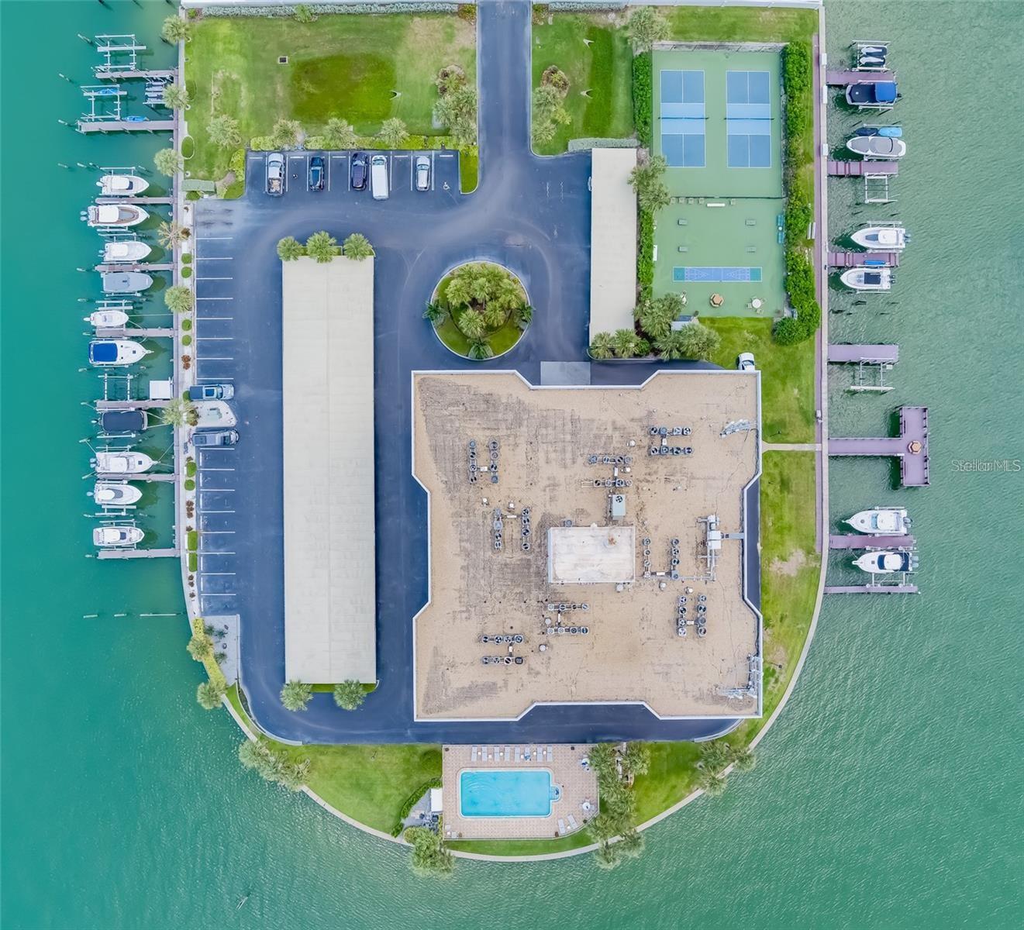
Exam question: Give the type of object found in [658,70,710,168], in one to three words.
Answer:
sports court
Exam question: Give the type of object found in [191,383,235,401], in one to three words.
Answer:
vehicle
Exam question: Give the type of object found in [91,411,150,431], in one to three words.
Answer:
boat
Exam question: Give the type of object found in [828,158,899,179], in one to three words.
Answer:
pier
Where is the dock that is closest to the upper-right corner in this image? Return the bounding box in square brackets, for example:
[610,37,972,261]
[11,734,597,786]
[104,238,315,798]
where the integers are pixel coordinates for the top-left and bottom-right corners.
[828,69,897,90]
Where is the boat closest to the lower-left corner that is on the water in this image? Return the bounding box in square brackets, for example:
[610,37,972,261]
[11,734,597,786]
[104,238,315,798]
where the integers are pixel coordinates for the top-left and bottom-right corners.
[93,526,144,546]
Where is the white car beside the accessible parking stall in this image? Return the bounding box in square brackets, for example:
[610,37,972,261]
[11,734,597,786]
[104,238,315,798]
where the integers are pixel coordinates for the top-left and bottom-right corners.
[415,156,432,191]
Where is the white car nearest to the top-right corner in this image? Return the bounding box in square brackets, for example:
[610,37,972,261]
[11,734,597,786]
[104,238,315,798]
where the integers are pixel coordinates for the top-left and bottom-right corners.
[737,353,755,371]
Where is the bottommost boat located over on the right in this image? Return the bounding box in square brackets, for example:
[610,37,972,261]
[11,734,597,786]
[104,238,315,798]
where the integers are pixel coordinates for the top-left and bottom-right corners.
[852,550,918,573]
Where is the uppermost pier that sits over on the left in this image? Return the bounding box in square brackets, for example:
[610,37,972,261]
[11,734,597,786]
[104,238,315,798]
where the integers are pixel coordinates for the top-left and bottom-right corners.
[96,68,178,84]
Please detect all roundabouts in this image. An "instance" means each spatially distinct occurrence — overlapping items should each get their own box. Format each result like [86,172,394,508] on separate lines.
[431,260,531,360]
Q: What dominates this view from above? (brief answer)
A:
water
